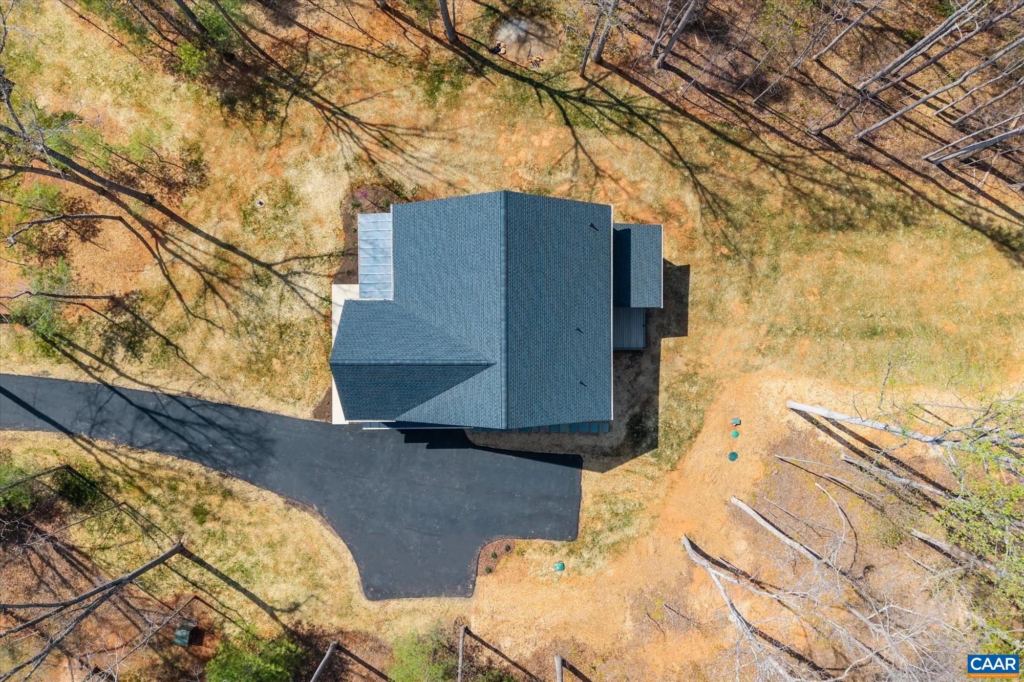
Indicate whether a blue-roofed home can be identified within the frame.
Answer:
Yes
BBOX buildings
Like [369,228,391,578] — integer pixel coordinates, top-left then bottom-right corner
[330,189,664,430]
[172,619,199,648]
